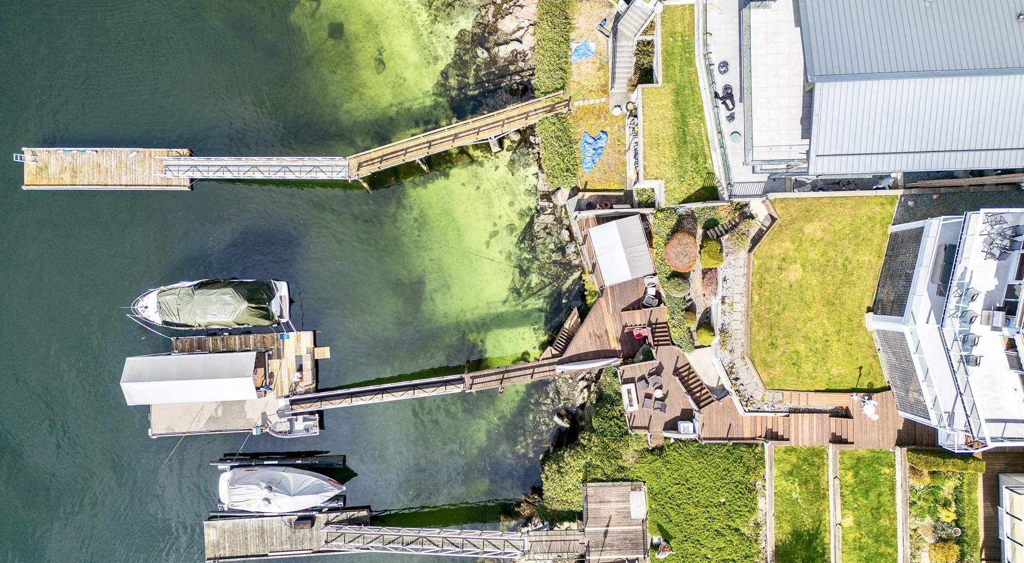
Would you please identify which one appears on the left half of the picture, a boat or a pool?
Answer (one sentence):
Looking on the left half of the picture, you will find a boat.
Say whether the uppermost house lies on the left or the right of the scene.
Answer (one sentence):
The uppermost house sits on the right side.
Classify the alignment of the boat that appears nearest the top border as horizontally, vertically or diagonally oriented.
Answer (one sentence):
In this picture, the boat that appears nearest the top border lies horizontally.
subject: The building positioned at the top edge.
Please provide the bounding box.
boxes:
[738,0,1024,182]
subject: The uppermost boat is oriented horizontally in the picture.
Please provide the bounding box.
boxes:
[120,278,297,330]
